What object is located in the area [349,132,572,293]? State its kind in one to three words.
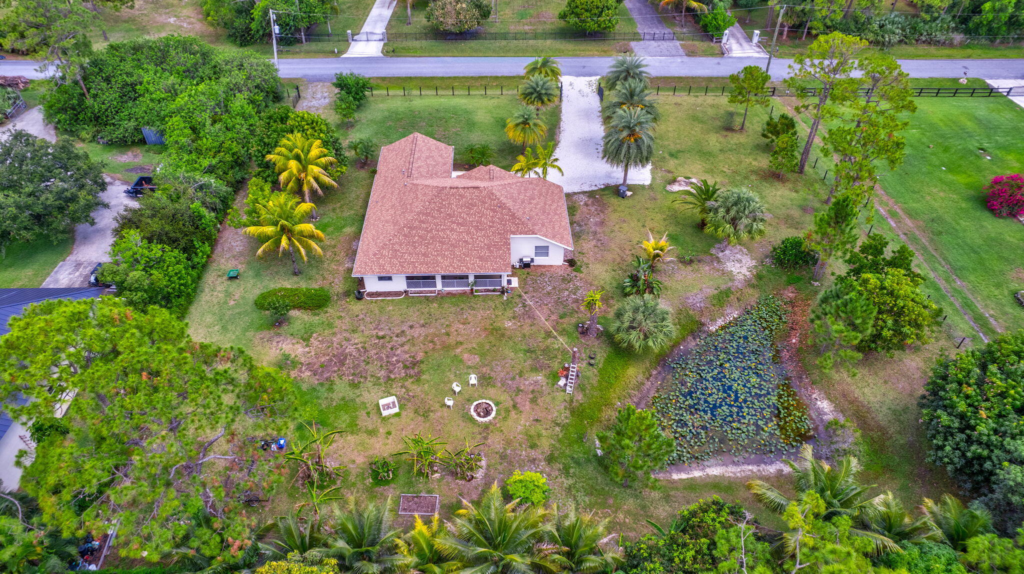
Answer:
house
